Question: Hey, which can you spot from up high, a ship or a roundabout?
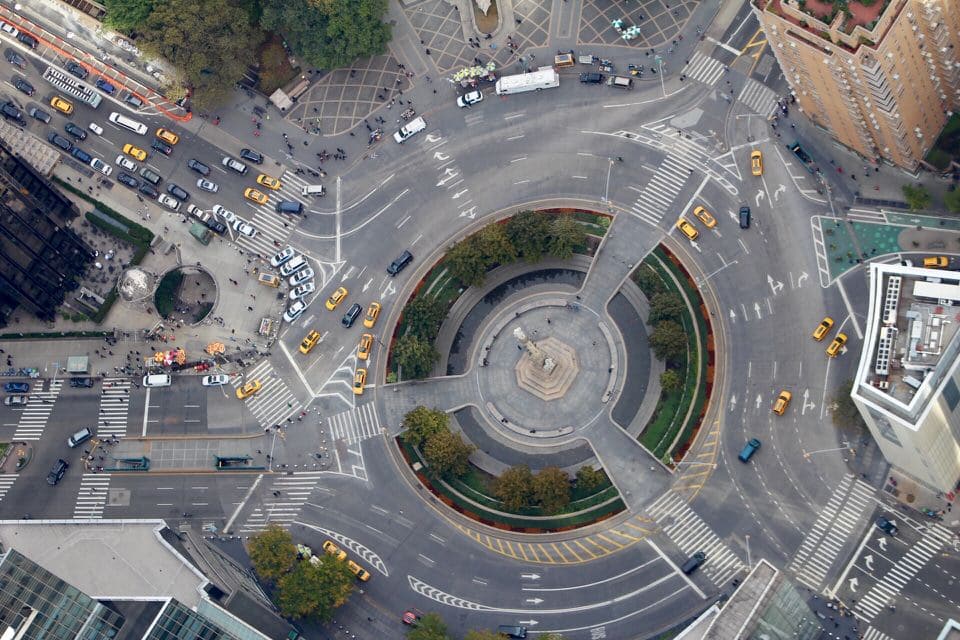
roundabout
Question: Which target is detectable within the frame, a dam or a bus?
bus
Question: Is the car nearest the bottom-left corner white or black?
black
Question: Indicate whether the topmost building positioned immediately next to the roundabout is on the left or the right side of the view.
right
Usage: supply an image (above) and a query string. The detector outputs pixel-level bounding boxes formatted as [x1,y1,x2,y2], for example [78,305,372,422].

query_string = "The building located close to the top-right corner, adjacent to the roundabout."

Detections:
[750,0,960,179]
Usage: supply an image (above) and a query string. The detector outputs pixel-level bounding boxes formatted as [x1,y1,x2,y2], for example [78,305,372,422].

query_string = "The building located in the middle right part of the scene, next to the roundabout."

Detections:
[851,263,960,494]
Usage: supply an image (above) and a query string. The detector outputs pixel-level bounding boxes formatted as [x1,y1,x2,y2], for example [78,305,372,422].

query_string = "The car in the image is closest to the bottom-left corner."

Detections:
[44,456,69,483]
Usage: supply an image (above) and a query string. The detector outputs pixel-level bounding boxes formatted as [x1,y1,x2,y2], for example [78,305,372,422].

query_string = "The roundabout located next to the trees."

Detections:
[284,112,822,636]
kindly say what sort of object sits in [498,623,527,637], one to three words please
vehicle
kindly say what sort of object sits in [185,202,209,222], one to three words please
car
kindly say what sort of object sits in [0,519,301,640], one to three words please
building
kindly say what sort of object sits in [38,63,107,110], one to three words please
bus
